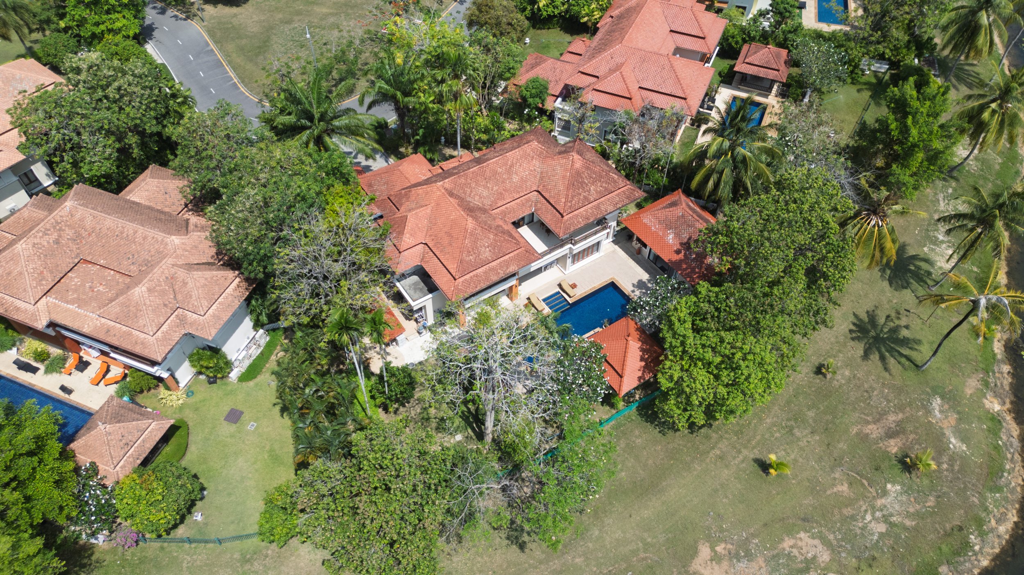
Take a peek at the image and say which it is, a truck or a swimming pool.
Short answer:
swimming pool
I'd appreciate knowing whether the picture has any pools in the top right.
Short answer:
Yes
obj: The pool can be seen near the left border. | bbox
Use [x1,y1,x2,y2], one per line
[0,376,93,480]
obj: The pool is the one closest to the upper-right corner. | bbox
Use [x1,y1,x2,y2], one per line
[813,0,851,26]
